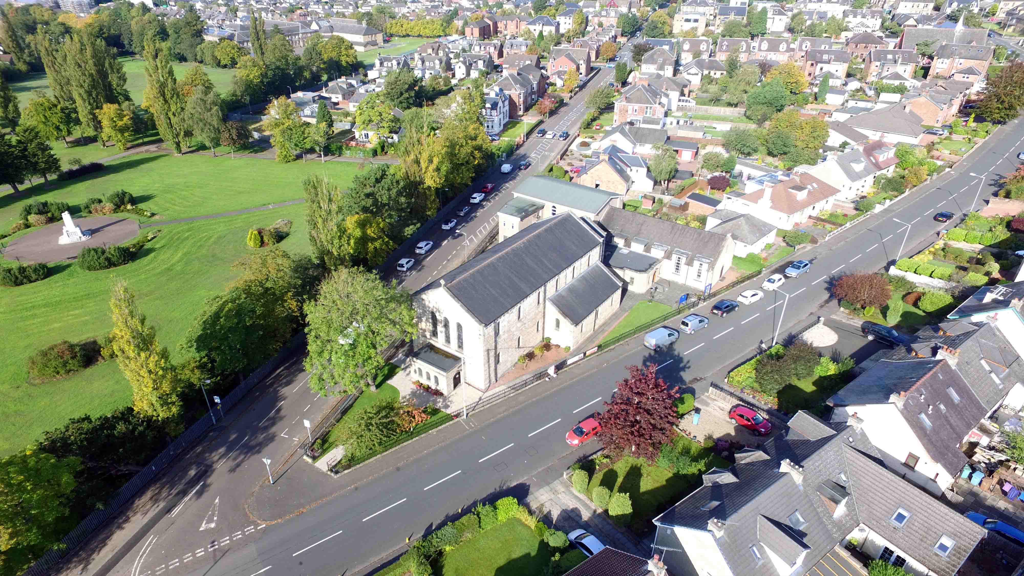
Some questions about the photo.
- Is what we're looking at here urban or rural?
urban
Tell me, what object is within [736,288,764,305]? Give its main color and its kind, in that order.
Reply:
white car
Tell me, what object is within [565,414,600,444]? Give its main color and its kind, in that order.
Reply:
red car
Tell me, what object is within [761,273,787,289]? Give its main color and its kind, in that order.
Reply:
white car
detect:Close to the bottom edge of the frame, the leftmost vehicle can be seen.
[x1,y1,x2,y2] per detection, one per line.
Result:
[563,518,610,554]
